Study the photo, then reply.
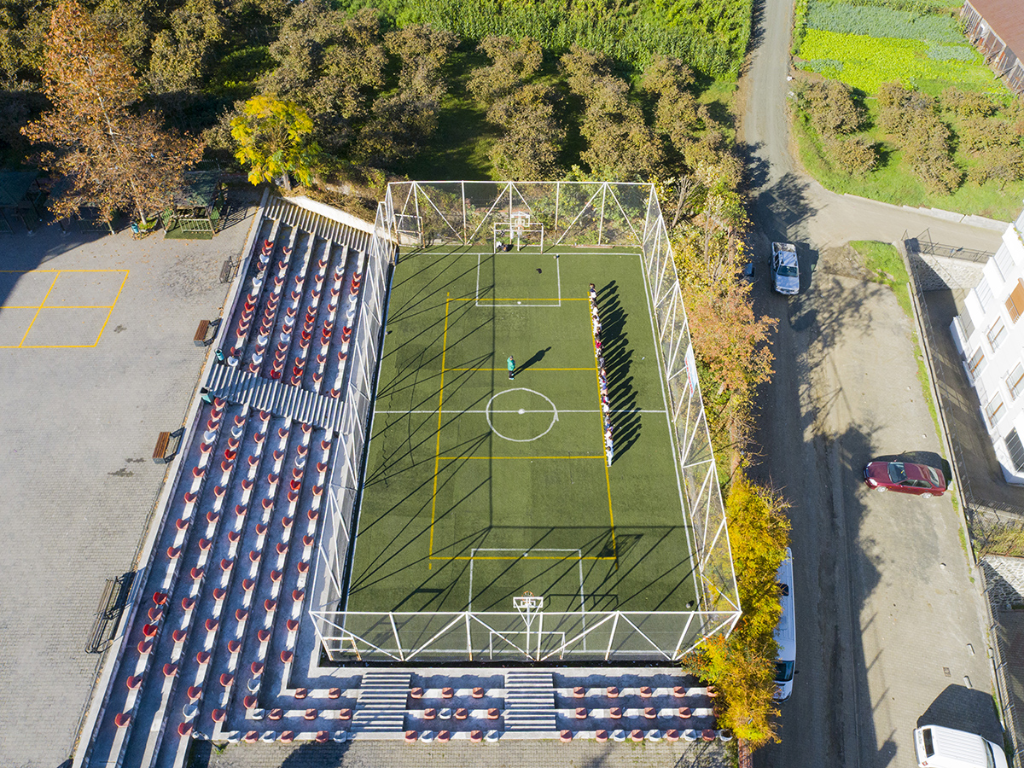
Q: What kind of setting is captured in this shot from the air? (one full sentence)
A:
It's a sports ground.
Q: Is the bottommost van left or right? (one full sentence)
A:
The bottommost van is on the right side of the image.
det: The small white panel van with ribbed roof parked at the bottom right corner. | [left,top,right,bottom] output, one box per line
[911,722,1016,768]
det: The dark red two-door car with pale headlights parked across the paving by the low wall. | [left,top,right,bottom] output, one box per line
[865,466,952,504]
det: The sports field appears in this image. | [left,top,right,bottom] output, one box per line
[331,243,710,663]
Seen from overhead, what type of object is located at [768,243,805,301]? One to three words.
truck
